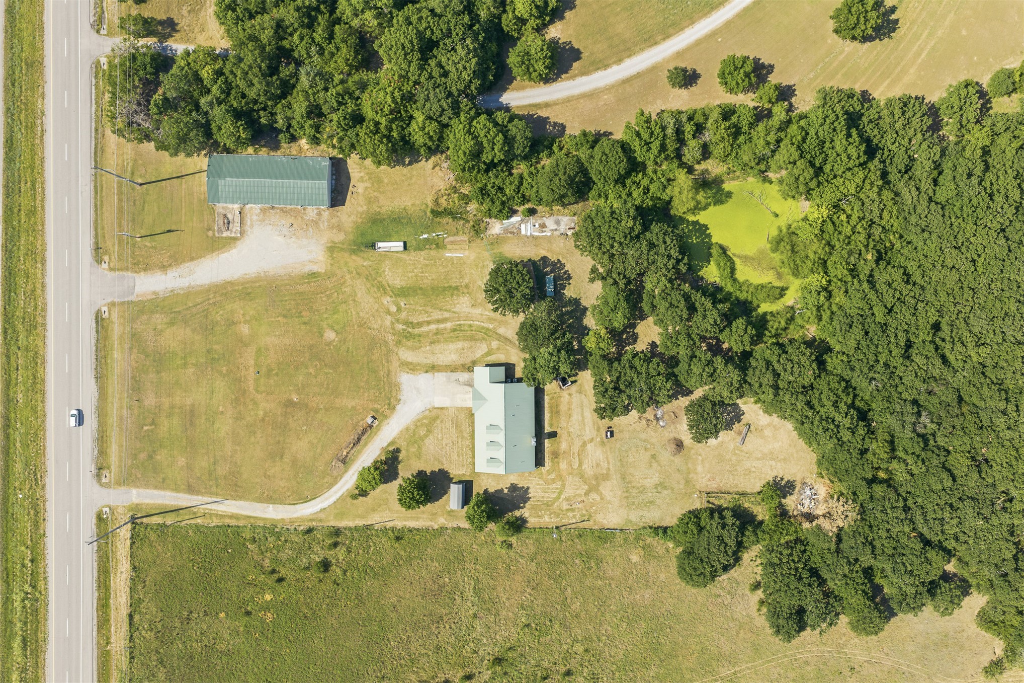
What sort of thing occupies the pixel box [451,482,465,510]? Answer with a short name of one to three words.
shed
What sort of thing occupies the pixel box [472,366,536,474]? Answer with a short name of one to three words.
house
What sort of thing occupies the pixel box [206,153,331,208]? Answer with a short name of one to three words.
barn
